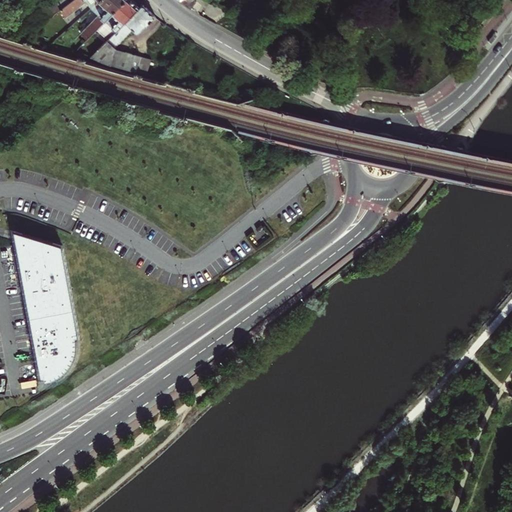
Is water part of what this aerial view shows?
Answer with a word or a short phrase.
Yes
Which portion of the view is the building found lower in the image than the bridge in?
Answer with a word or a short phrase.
left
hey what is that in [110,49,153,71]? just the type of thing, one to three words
building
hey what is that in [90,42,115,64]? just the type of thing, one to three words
building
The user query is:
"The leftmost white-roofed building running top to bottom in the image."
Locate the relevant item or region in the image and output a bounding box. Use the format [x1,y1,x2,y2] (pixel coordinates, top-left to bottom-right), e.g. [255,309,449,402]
[8,232,76,385]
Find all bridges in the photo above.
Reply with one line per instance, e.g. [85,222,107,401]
[0,38,512,194]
